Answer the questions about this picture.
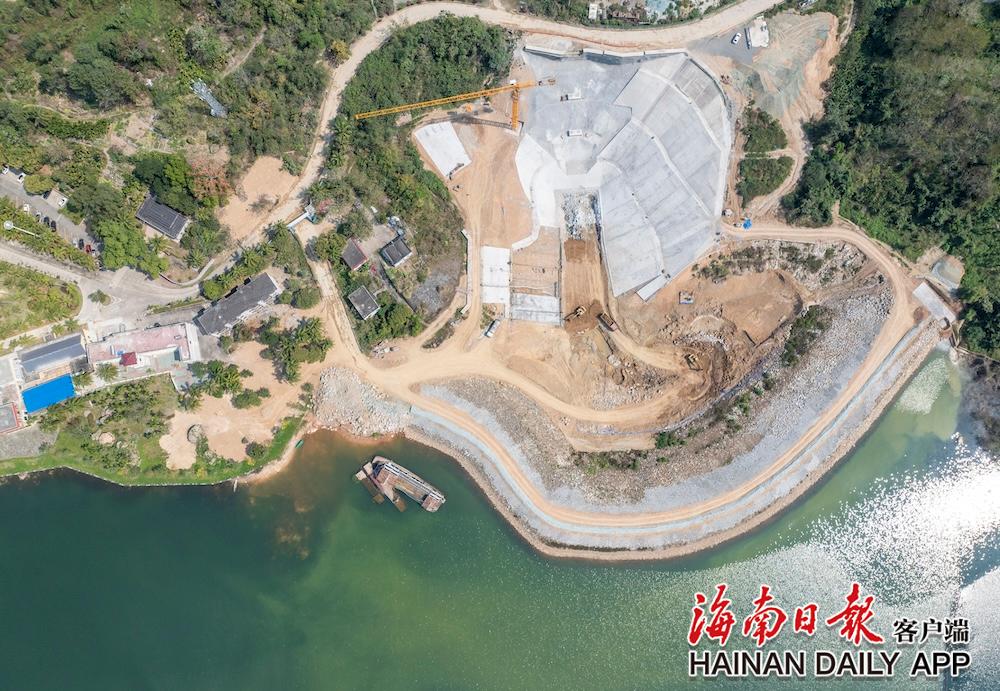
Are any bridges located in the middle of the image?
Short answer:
No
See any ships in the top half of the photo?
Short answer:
No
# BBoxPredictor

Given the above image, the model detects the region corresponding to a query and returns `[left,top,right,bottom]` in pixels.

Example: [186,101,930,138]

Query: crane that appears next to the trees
[354,74,562,136]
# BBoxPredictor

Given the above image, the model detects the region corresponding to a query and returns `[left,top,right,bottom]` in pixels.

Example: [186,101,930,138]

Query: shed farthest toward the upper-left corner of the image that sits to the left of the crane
[191,81,229,121]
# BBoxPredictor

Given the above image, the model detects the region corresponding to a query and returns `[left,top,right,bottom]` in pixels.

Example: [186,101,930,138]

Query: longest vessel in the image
[355,456,445,511]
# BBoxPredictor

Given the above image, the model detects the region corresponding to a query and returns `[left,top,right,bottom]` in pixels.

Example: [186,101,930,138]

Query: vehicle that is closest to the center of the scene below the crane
[485,318,499,337]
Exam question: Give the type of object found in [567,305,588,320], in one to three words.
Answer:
work vehicle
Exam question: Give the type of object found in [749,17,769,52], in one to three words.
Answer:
building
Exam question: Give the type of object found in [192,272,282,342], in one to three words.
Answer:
house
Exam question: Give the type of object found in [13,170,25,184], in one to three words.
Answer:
vehicle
